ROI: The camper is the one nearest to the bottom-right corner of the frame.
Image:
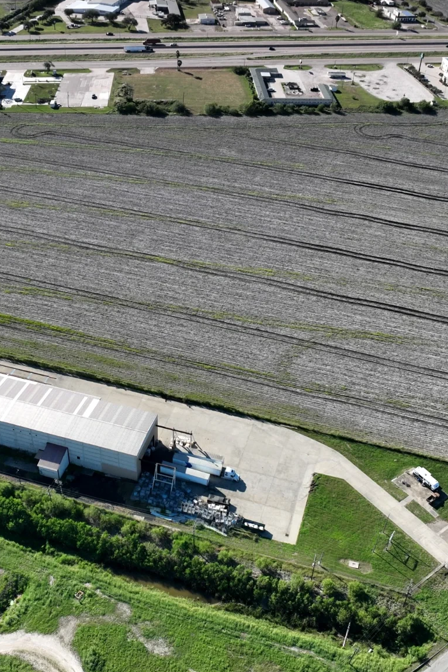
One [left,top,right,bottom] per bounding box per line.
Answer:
[413,465,439,489]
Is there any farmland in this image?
Yes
